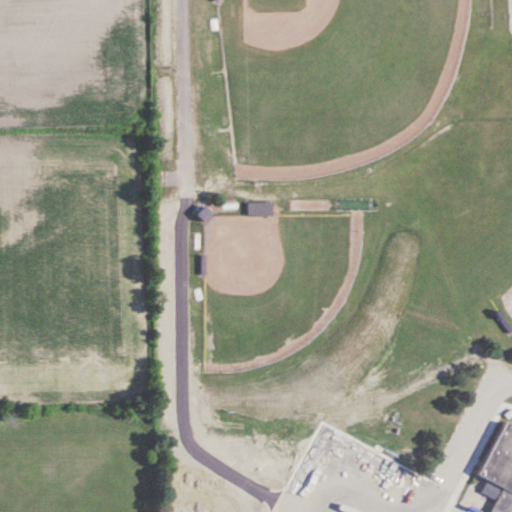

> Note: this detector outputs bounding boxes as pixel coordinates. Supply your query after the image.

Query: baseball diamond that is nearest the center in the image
[205,212,362,374]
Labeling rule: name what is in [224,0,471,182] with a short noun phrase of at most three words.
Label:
baseball field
